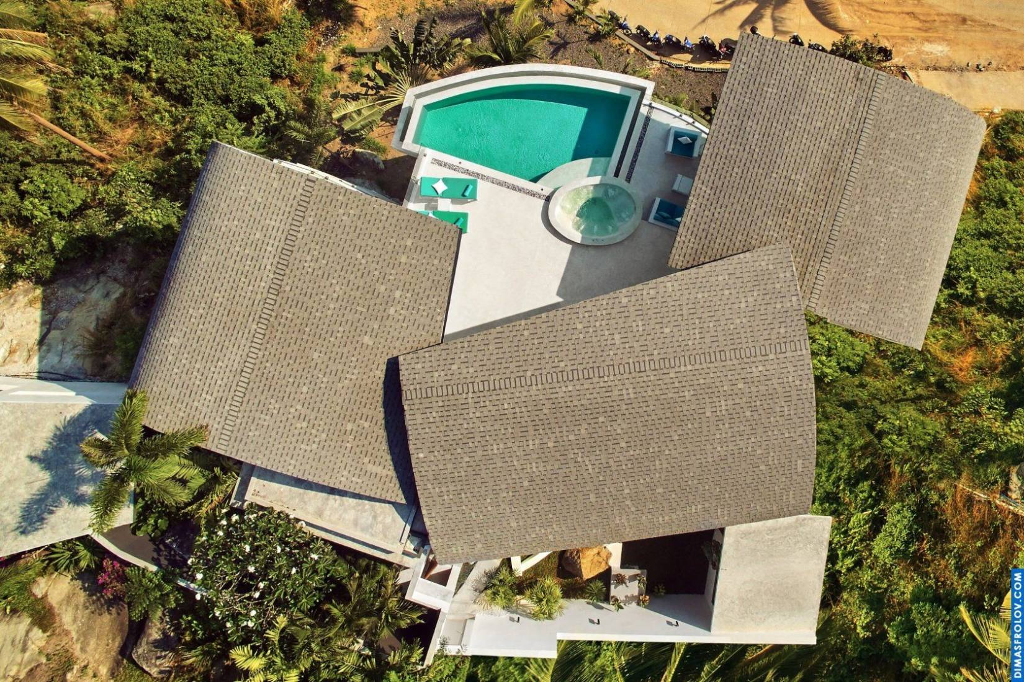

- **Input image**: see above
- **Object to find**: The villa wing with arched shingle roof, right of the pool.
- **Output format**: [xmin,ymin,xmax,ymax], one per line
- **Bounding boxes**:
[670,34,985,351]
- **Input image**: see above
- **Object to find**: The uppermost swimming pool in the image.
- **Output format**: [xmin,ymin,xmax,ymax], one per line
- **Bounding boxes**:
[392,63,655,192]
